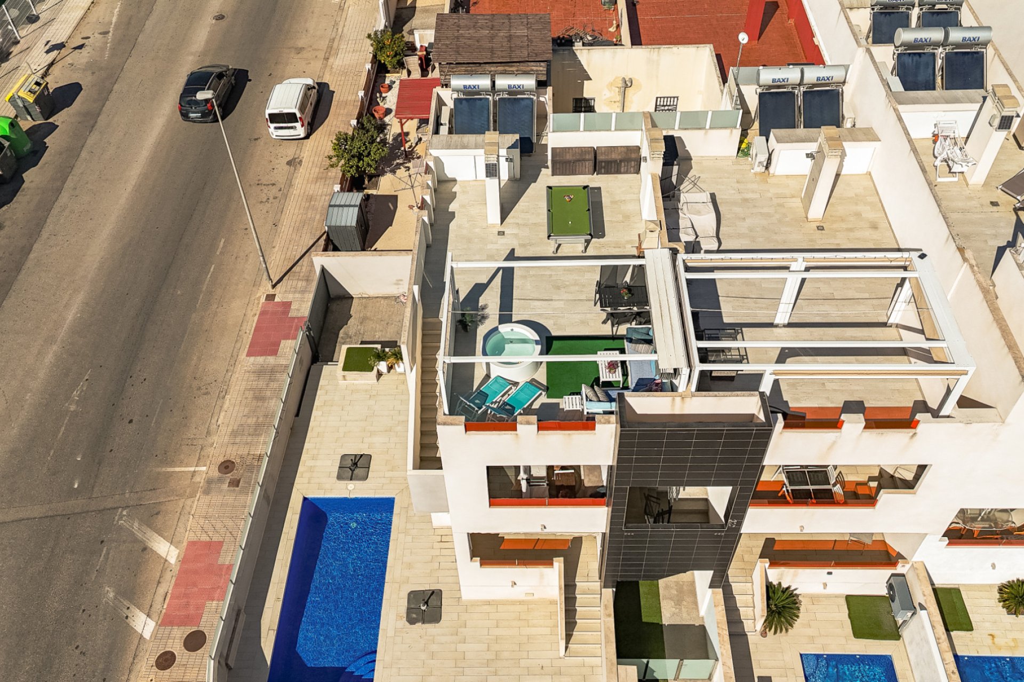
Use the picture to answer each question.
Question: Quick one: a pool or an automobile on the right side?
pool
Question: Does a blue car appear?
No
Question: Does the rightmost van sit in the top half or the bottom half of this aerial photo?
top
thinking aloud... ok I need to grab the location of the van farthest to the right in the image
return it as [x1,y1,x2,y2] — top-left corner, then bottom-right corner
[267,74,326,139]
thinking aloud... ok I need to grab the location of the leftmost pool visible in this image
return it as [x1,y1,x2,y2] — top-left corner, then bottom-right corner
[267,497,395,682]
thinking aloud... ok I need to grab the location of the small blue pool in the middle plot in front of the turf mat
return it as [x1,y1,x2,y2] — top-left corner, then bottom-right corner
[800,655,898,682]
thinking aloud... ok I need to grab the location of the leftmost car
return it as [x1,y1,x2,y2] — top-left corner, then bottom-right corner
[176,63,240,121]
